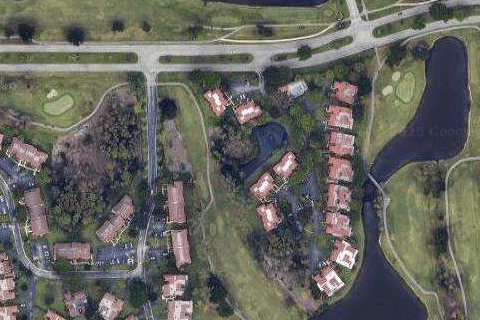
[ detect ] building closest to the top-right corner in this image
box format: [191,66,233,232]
[332,79,359,103]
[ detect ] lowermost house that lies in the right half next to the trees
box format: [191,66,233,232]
[312,264,346,298]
